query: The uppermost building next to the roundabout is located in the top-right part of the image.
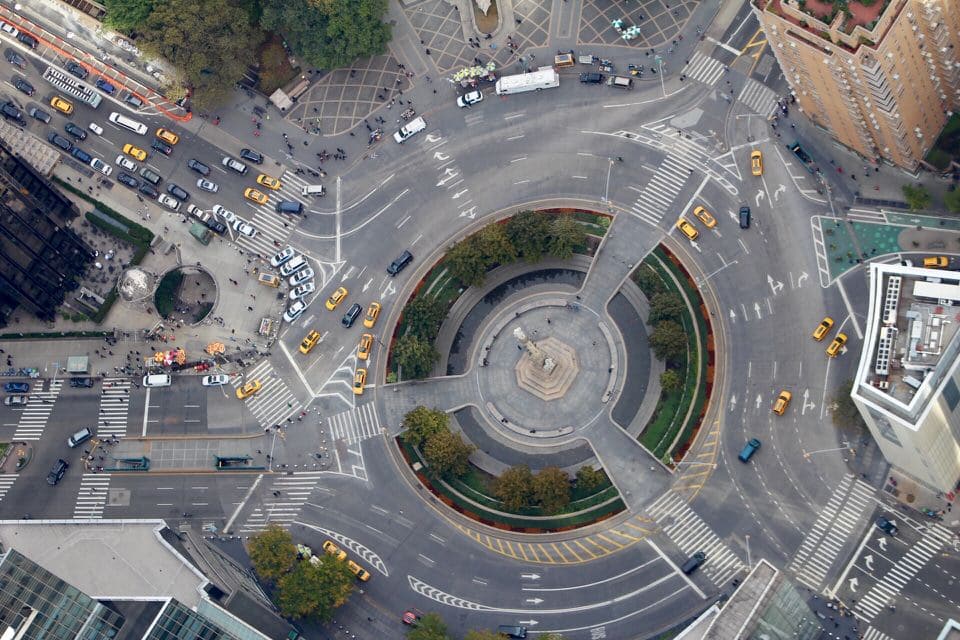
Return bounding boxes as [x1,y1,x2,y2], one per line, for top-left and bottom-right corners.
[750,0,960,179]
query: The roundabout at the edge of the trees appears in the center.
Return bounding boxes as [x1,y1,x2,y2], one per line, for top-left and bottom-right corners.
[284,112,822,636]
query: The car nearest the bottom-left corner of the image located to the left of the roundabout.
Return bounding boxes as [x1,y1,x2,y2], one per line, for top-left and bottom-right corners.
[44,456,69,483]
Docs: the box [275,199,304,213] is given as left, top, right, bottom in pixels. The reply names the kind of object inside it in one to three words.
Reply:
vehicle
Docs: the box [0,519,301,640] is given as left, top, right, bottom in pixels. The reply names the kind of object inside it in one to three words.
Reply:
building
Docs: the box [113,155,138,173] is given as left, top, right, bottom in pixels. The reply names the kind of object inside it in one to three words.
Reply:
car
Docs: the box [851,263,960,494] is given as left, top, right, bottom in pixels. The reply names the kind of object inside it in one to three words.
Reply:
building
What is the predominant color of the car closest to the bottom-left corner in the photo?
black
